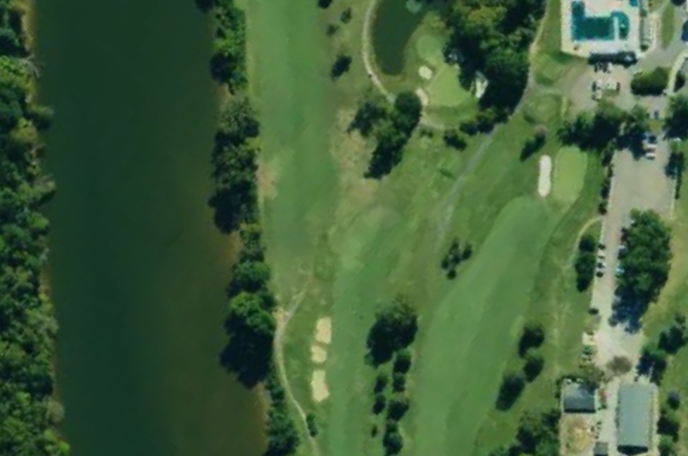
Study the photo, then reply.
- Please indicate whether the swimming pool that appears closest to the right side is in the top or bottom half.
top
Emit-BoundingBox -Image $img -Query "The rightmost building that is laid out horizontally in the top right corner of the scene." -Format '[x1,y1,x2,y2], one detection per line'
[589,53,637,66]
